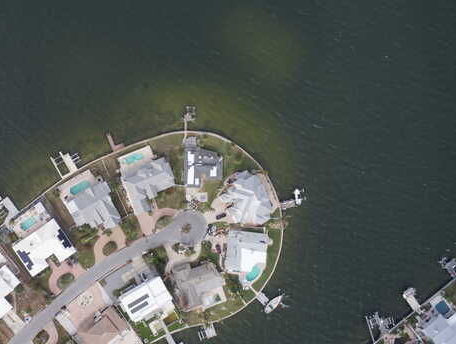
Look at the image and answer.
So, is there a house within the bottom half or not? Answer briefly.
Yes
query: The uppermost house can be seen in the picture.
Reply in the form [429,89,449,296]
[185,148,222,186]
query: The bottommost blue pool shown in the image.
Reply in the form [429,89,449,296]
[434,300,452,316]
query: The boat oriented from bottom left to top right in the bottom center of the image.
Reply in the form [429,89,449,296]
[264,295,284,315]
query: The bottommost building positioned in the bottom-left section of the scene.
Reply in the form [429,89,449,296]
[77,306,133,344]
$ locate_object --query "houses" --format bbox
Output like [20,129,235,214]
[0,265,21,319]
[222,171,271,230]
[13,219,76,277]
[120,275,174,323]
[77,306,133,344]
[226,230,268,273]
[185,148,222,186]
[423,312,456,344]
[124,158,177,215]
[173,263,225,311]
[68,181,120,235]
